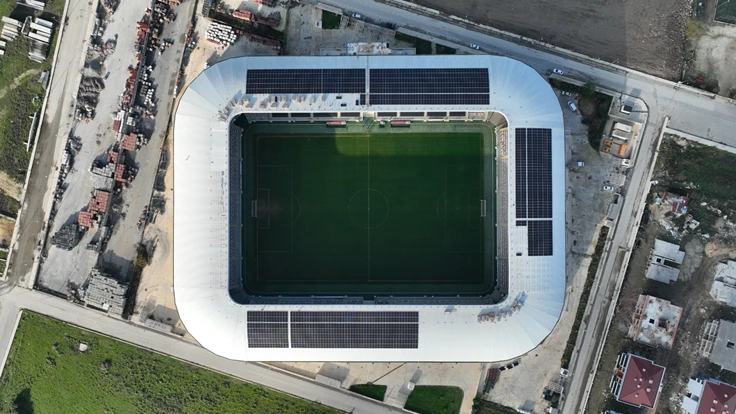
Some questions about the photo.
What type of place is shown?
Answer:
sports ground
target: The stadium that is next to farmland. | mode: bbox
[172,55,566,362]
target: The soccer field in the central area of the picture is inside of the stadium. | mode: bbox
[242,120,495,296]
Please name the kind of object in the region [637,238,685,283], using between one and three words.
house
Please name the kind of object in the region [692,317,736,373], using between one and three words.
house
